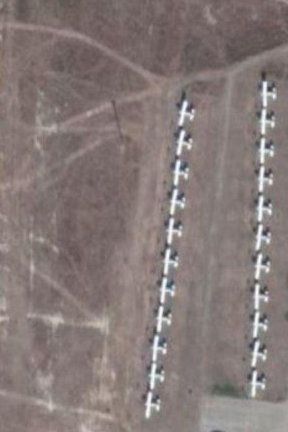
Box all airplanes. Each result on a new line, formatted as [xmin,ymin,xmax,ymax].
[155,306,171,332]
[256,195,272,221]
[252,284,268,309]
[257,166,272,192]
[251,341,267,366]
[254,225,270,250]
[169,189,185,215]
[176,130,192,155]
[179,101,194,126]
[159,277,175,303]
[144,393,160,419]
[151,336,166,362]
[258,138,273,164]
[259,109,275,134]
[260,81,276,107]
[172,160,188,185]
[165,219,182,245]
[162,249,178,275]
[250,372,265,398]
[148,364,164,389]
[251,312,267,337]
[254,254,269,279]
